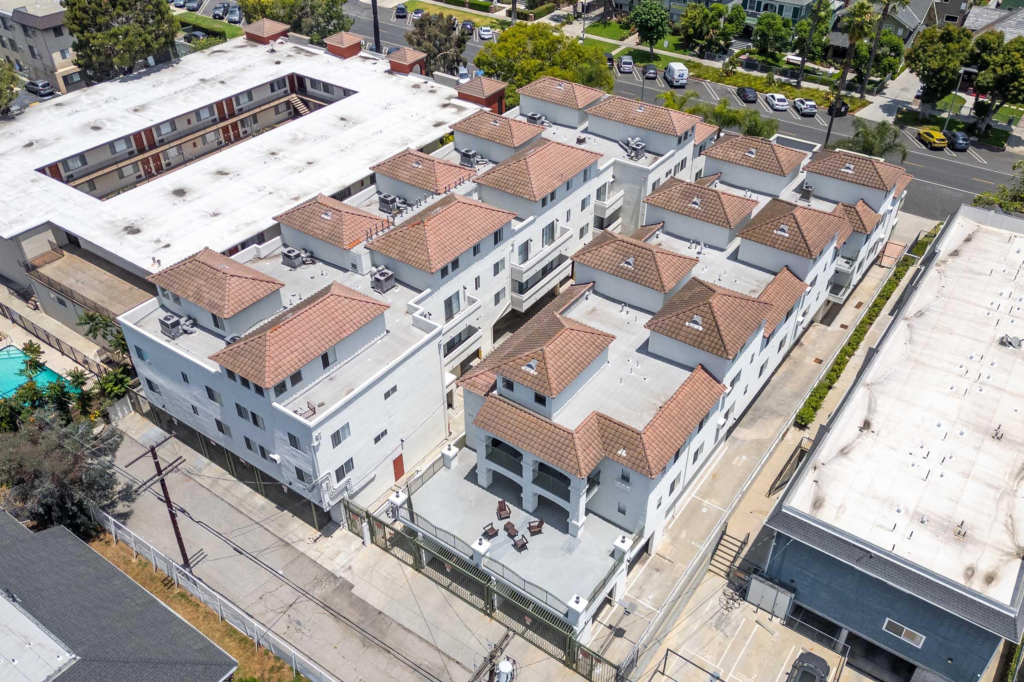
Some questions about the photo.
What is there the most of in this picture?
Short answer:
buildings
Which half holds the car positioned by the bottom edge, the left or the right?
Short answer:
right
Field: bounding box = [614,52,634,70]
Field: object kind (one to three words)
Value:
car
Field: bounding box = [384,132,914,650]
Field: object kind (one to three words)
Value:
building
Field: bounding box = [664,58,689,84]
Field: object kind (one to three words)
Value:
vehicle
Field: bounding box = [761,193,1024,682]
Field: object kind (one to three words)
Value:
building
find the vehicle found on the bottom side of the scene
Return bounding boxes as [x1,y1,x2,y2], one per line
[778,637,828,682]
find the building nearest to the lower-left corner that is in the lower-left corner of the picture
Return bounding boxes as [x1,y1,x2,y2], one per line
[0,491,241,682]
